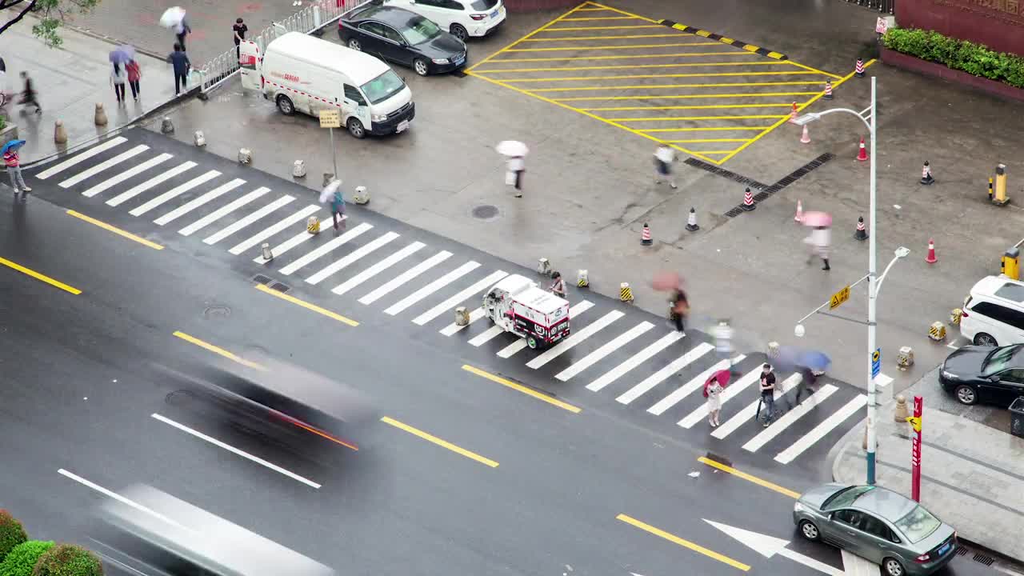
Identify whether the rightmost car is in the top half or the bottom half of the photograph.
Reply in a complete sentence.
The rightmost car is in the bottom half of the image.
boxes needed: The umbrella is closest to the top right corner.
[795,211,836,240]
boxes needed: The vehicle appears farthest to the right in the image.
[942,341,1024,413]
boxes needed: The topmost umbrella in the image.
[161,6,189,31]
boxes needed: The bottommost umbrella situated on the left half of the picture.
[321,180,347,206]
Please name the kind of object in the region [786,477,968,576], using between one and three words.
car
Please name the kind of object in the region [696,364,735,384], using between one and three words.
umbrella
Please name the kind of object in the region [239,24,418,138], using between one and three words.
van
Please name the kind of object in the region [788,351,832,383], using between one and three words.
umbrella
